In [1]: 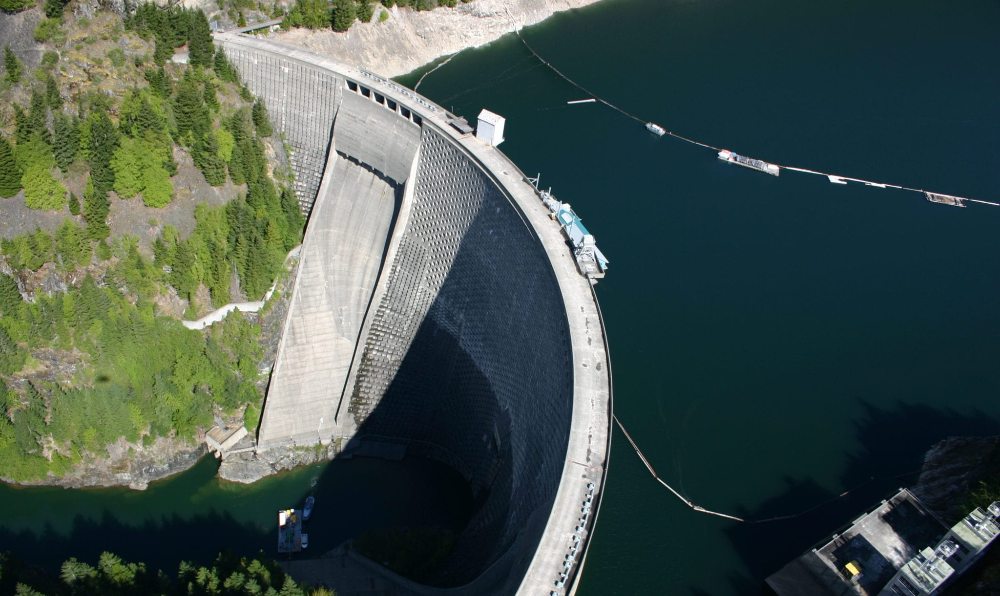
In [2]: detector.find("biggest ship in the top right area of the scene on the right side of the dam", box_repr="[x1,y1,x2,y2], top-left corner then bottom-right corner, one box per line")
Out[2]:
[717,146,779,176]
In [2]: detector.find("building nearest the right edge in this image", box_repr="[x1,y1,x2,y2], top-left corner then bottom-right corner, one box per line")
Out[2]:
[934,505,1000,583]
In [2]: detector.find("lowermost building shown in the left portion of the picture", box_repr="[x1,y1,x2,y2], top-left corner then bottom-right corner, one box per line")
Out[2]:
[212,407,241,457]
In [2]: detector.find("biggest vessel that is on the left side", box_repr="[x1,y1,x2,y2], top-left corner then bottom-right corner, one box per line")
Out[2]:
[278,507,302,554]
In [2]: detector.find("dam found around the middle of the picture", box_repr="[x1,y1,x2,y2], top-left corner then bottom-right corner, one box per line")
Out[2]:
[195,28,613,596]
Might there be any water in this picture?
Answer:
Yes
